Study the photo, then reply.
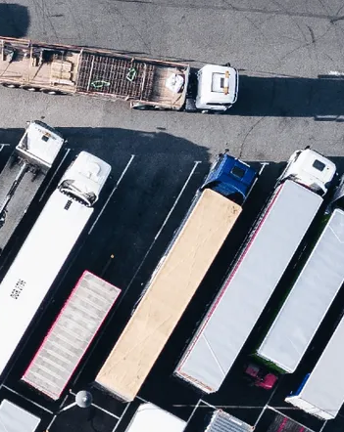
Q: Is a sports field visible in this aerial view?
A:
No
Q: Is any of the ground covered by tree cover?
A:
No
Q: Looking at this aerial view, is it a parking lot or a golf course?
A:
parking lot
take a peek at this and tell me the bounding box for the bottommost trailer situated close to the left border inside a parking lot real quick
[0,399,40,432]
